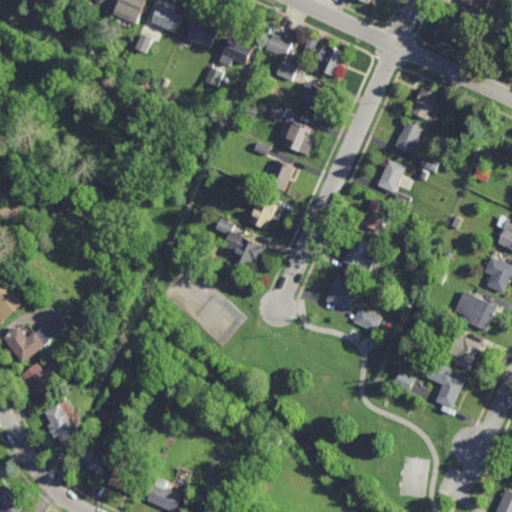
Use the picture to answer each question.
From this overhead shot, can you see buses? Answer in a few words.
No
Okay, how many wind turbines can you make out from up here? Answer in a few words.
none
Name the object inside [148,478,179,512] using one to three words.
house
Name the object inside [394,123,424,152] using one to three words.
house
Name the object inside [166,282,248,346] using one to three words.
sports court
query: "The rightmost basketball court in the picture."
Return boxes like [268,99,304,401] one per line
[400,457,430,498]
